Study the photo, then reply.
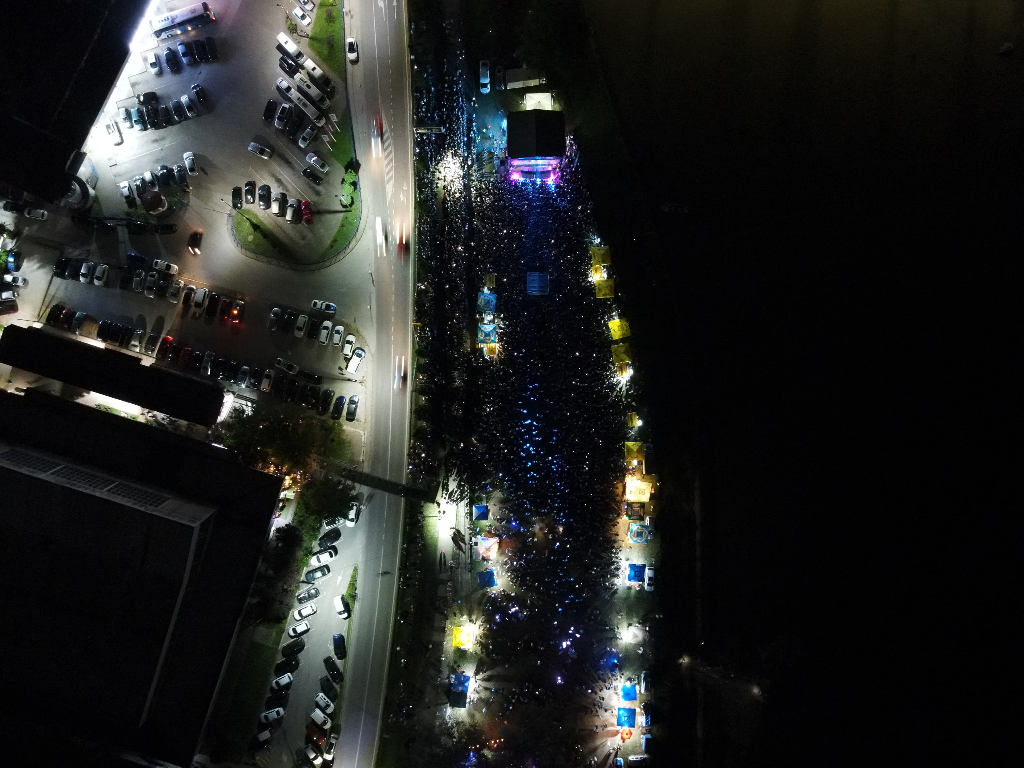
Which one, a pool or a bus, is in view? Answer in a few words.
bus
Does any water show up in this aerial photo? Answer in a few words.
Yes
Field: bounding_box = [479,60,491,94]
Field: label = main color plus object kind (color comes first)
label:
blue vehicle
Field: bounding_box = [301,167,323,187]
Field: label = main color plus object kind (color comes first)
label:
black car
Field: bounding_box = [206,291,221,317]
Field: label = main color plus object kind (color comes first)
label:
black car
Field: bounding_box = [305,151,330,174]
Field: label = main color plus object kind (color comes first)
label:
gray car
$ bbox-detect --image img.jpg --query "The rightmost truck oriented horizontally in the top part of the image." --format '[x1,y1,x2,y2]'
[504,67,547,90]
